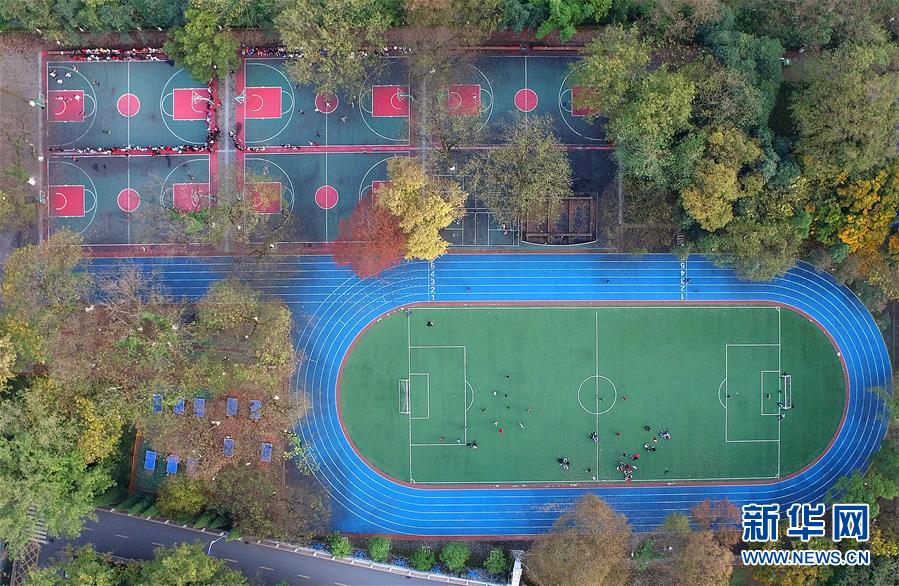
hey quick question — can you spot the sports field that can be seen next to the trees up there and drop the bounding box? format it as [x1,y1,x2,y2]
[341,306,845,484]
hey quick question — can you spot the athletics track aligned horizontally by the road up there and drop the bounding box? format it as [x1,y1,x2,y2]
[60,252,893,540]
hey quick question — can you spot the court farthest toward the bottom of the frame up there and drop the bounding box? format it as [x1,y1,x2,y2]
[432,212,520,246]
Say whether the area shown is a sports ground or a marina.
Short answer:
sports ground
